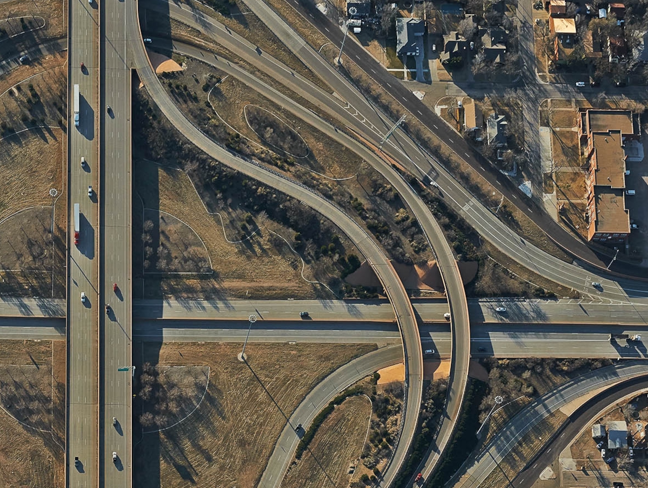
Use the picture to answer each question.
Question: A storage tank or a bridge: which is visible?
bridge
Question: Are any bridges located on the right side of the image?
Yes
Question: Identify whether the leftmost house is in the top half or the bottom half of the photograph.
top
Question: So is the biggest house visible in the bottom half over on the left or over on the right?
right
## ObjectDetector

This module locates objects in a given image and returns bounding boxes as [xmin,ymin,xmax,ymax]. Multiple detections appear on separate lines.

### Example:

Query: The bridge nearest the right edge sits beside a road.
[439,261,471,386]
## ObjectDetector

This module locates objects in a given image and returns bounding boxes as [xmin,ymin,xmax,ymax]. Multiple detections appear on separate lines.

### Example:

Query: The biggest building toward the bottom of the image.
[606,421,630,454]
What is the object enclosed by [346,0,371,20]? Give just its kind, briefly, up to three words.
house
